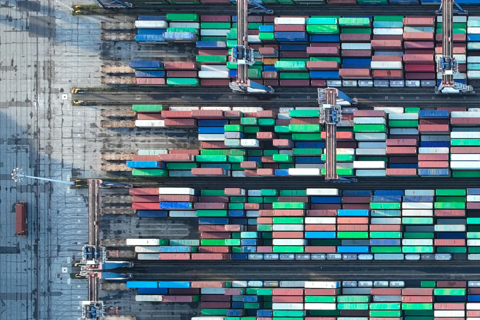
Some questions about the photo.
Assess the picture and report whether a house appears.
No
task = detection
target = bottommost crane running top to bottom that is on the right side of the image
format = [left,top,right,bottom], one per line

[314,86,361,184]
